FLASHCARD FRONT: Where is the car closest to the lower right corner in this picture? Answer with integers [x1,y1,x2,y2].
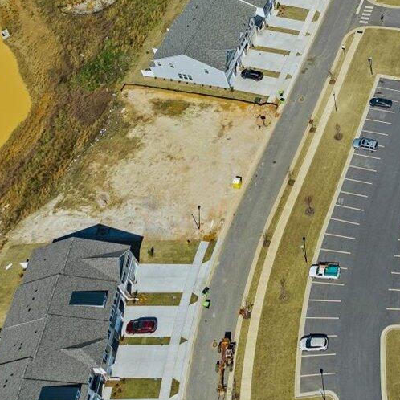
[298,333,330,350]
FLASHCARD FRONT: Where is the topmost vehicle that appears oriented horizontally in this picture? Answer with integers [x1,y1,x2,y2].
[240,67,263,79]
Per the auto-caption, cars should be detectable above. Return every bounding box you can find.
[369,93,394,107]
[125,316,157,333]
[240,67,263,79]
[353,137,379,150]
[298,333,330,350]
